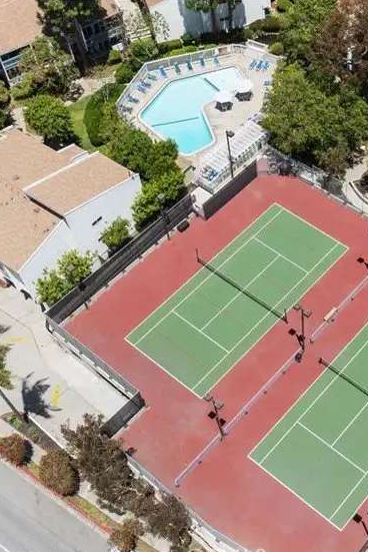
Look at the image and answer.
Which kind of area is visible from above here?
sports ground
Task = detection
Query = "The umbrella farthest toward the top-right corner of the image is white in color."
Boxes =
[231,77,254,91]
